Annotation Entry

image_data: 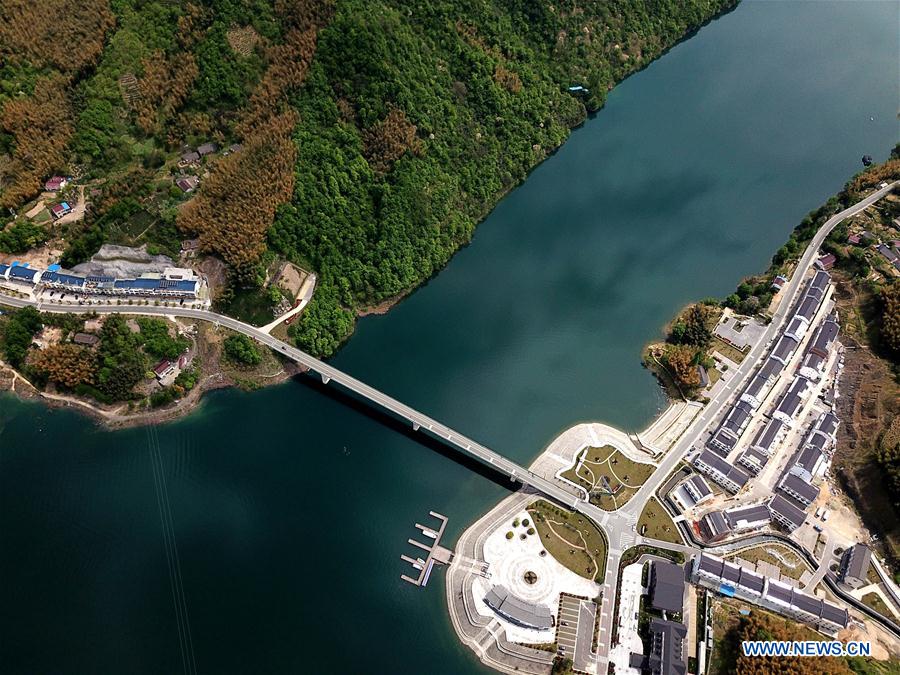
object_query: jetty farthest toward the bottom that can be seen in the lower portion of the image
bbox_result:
[401,512,457,586]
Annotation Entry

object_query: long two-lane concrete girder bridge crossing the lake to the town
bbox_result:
[294,351,580,513]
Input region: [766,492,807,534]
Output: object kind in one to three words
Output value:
building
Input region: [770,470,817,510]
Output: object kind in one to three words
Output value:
building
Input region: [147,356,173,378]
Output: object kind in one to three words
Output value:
house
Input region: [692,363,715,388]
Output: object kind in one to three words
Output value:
house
